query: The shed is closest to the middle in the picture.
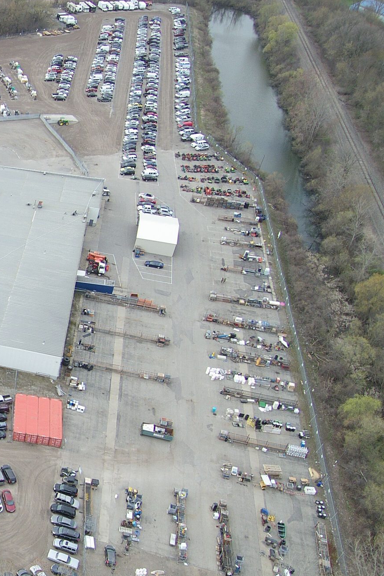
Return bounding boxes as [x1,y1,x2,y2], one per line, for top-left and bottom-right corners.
[134,213,180,256]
